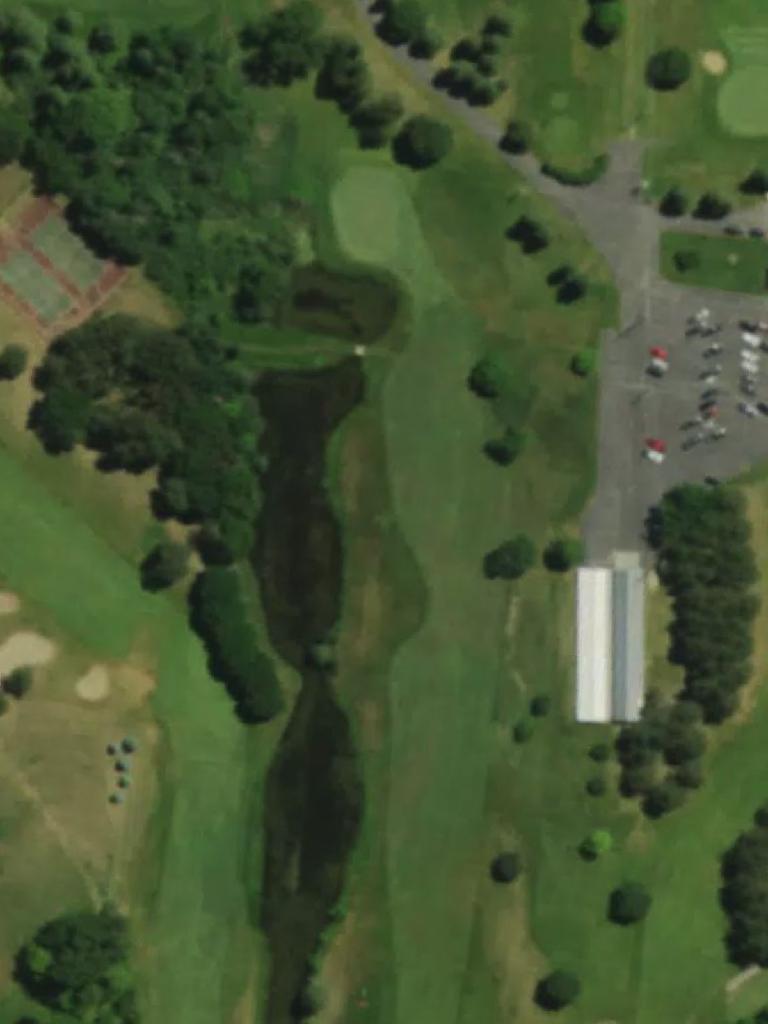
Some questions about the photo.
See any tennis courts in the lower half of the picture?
No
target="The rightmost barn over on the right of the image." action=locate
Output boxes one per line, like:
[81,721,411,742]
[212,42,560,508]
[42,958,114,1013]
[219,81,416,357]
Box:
[614,567,644,722]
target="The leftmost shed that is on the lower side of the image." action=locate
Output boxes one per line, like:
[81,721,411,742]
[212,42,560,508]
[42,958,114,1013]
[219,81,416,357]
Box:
[577,568,611,722]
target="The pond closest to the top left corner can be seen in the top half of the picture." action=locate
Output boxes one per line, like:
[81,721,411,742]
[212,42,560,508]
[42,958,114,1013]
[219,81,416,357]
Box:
[280,264,404,341]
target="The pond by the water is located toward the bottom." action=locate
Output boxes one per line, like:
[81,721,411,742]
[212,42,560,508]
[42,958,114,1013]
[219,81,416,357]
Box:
[253,357,367,1024]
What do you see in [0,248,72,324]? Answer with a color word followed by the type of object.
green tennis court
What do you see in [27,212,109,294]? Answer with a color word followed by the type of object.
green tennis court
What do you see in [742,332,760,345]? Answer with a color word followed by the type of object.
white vehicle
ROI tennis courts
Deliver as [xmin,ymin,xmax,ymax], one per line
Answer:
[27,212,109,294]
[0,248,72,324]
